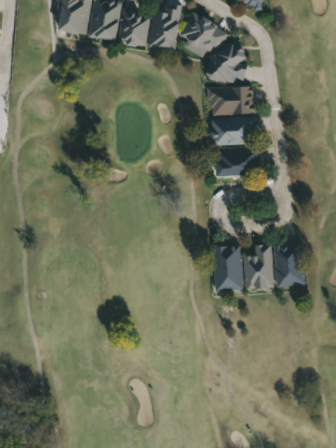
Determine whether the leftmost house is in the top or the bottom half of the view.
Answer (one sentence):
You can find the leftmost house in the top half.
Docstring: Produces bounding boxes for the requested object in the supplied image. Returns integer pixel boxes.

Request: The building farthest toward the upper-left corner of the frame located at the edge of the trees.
[53,0,90,36]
